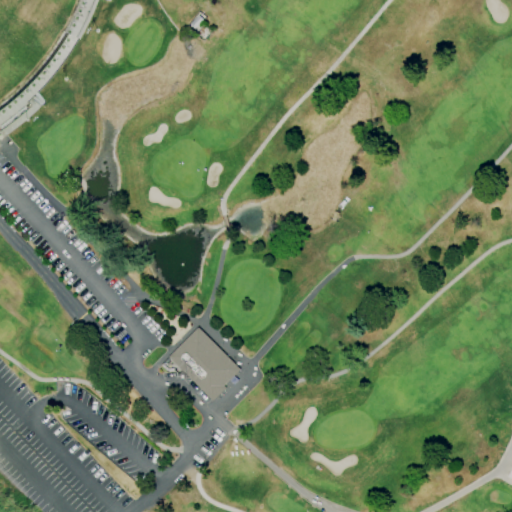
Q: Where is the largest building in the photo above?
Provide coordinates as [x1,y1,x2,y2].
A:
[170,328,240,400]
